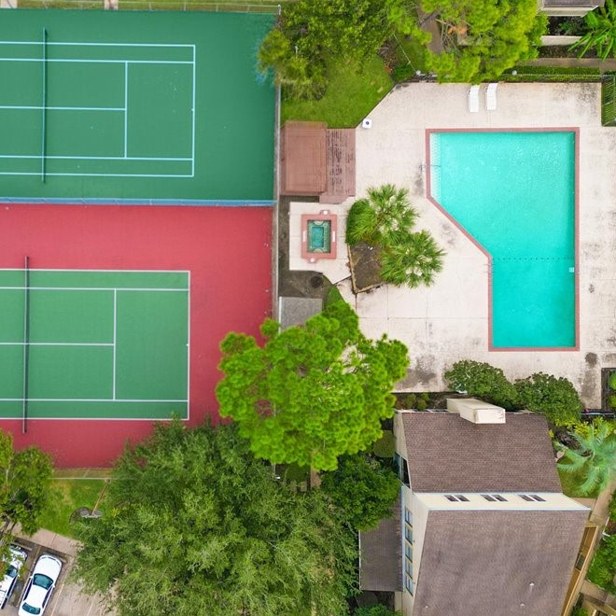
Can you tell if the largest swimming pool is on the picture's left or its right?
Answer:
right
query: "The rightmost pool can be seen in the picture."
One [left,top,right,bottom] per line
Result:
[426,127,580,351]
